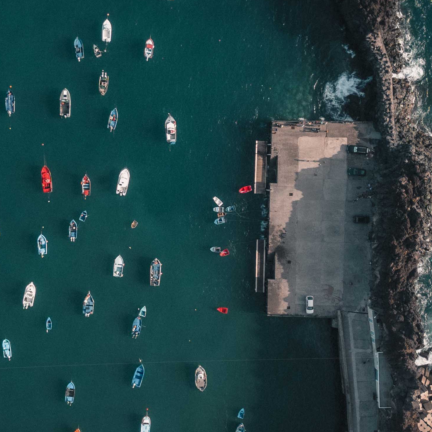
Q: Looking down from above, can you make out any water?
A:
Yes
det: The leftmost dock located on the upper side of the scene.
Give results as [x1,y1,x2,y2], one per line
[254,141,269,194]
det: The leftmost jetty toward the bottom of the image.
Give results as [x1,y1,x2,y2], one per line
[255,240,270,292]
